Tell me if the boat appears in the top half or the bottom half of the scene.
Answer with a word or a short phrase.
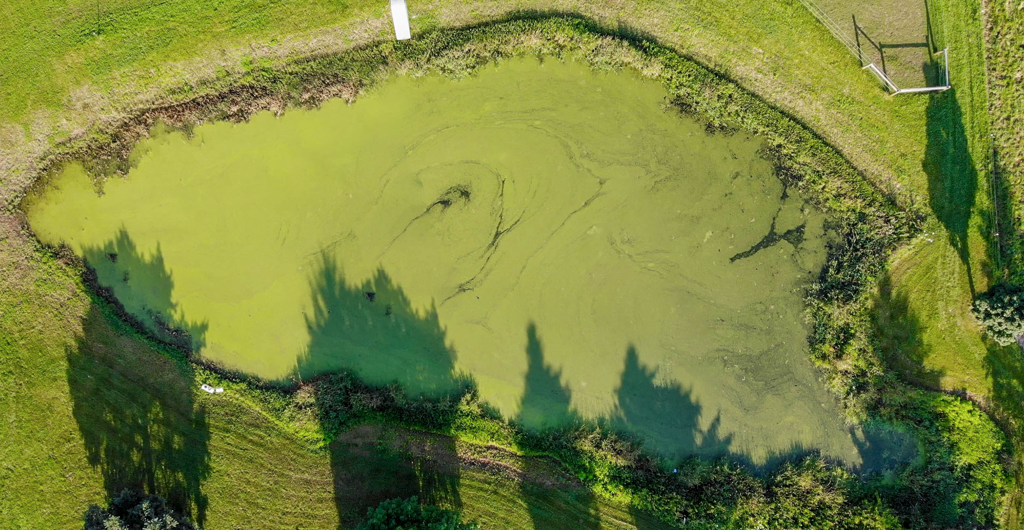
top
